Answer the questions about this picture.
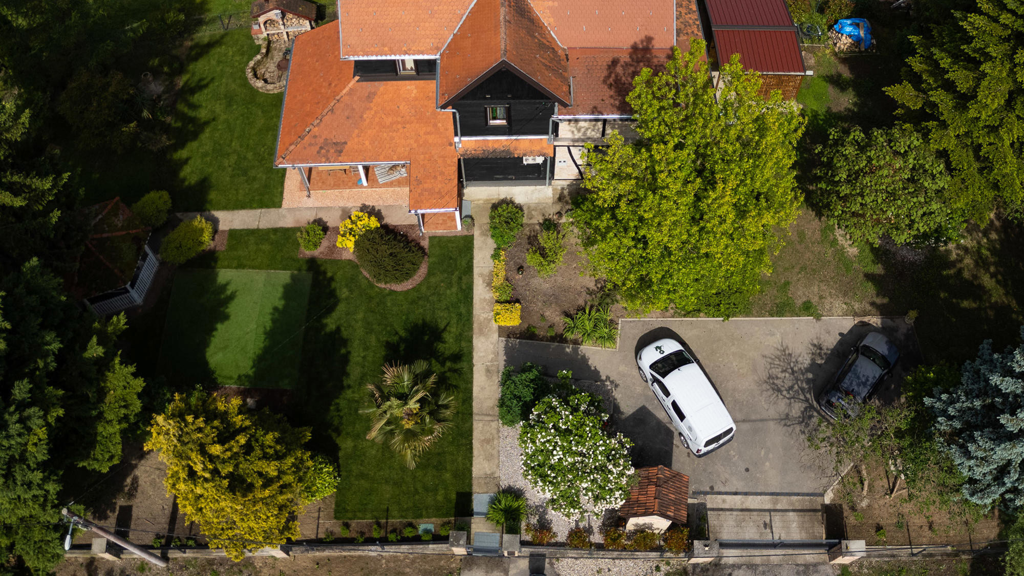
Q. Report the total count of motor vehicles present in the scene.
2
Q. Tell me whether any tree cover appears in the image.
Yes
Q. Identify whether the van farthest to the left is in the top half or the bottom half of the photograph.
bottom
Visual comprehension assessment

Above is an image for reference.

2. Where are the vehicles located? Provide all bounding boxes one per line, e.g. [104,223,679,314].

[813,328,905,429]
[637,338,742,459]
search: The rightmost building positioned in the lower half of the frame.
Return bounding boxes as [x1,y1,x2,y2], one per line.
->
[617,461,691,527]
